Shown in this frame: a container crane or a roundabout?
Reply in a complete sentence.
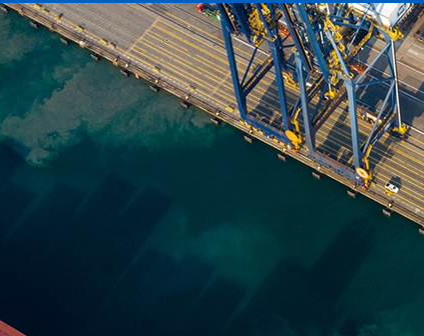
Looking from above, you can make out a container crane.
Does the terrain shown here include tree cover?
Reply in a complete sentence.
No, there's no tree cover in this view.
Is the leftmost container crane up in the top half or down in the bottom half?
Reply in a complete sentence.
The leftmost container crane is in the top half of the image.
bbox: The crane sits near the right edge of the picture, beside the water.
[273,0,411,185]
